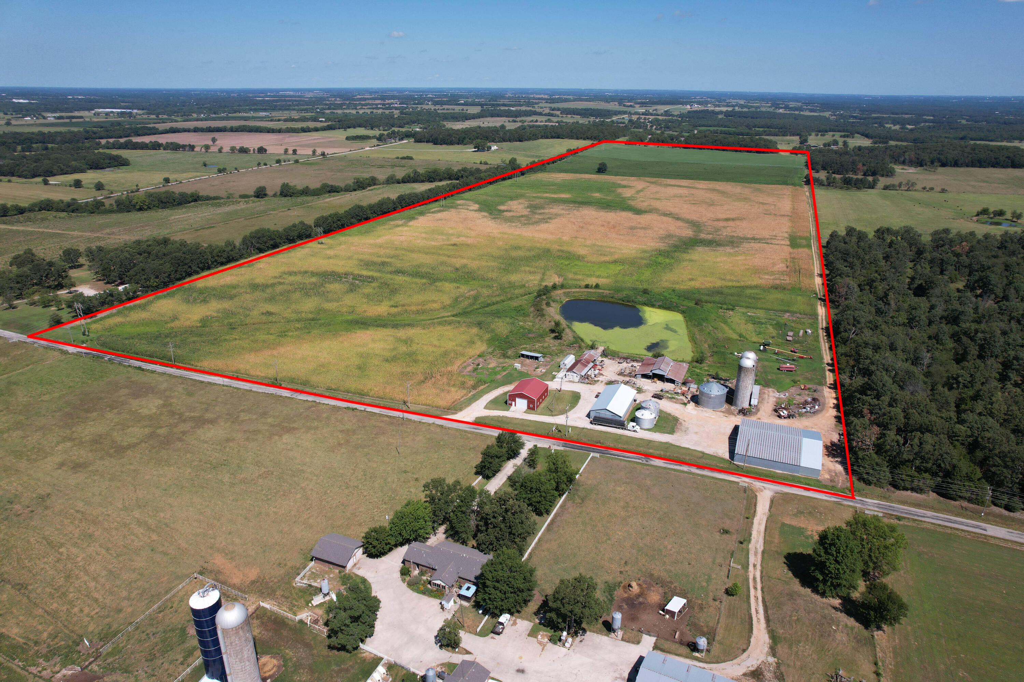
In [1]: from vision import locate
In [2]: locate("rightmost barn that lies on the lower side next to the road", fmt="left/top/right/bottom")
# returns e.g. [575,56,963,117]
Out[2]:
[733,418,823,479]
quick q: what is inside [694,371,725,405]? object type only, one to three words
silo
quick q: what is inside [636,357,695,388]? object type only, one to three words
barn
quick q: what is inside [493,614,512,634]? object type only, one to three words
vehicle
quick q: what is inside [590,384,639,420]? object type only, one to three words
shed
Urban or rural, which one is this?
rural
